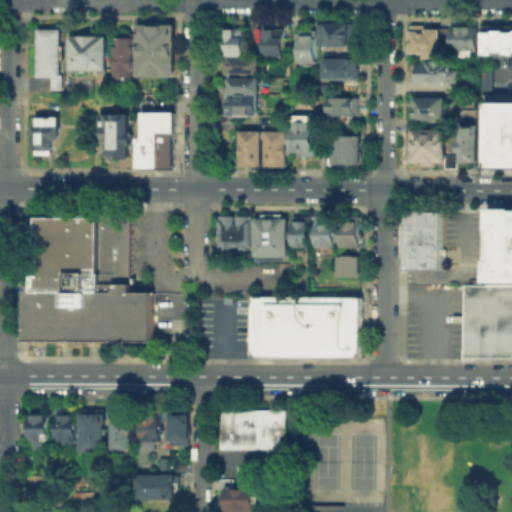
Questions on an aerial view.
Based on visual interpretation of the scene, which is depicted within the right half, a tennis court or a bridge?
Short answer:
tennis court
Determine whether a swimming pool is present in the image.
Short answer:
No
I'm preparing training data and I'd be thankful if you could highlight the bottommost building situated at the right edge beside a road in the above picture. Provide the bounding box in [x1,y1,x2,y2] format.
[463,284,512,360]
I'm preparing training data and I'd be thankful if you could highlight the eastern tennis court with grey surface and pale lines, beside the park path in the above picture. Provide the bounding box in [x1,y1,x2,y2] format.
[346,420,386,502]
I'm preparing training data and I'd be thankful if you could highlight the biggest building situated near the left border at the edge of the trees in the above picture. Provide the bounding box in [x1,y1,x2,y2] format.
[19,218,158,343]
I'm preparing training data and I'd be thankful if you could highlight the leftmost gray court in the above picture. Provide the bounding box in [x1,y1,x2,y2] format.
[306,420,346,502]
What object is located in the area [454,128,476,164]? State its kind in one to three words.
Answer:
building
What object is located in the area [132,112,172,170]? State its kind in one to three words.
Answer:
building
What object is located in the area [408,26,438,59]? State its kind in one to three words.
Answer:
house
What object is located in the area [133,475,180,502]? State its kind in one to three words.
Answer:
house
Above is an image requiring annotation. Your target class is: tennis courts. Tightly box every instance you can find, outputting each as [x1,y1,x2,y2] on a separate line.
[346,420,386,502]
[306,420,346,502]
